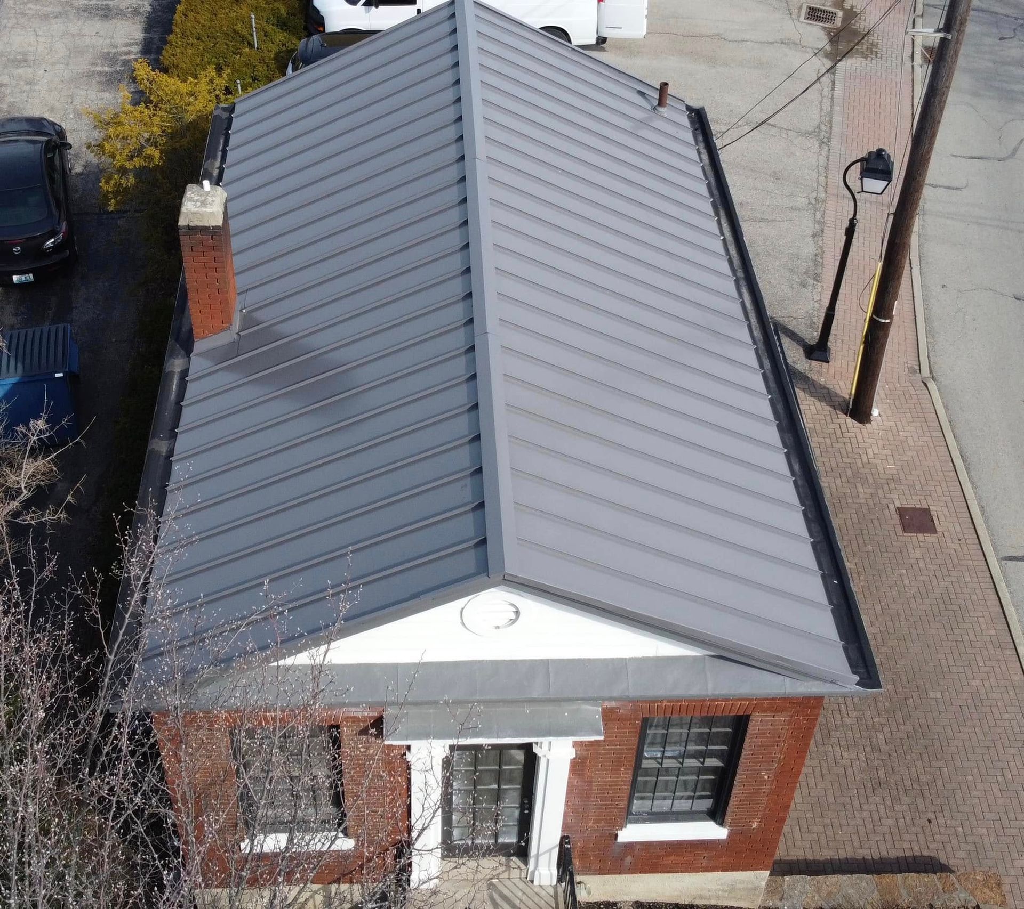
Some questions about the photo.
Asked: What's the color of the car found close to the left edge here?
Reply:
black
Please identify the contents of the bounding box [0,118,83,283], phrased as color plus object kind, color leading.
black car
